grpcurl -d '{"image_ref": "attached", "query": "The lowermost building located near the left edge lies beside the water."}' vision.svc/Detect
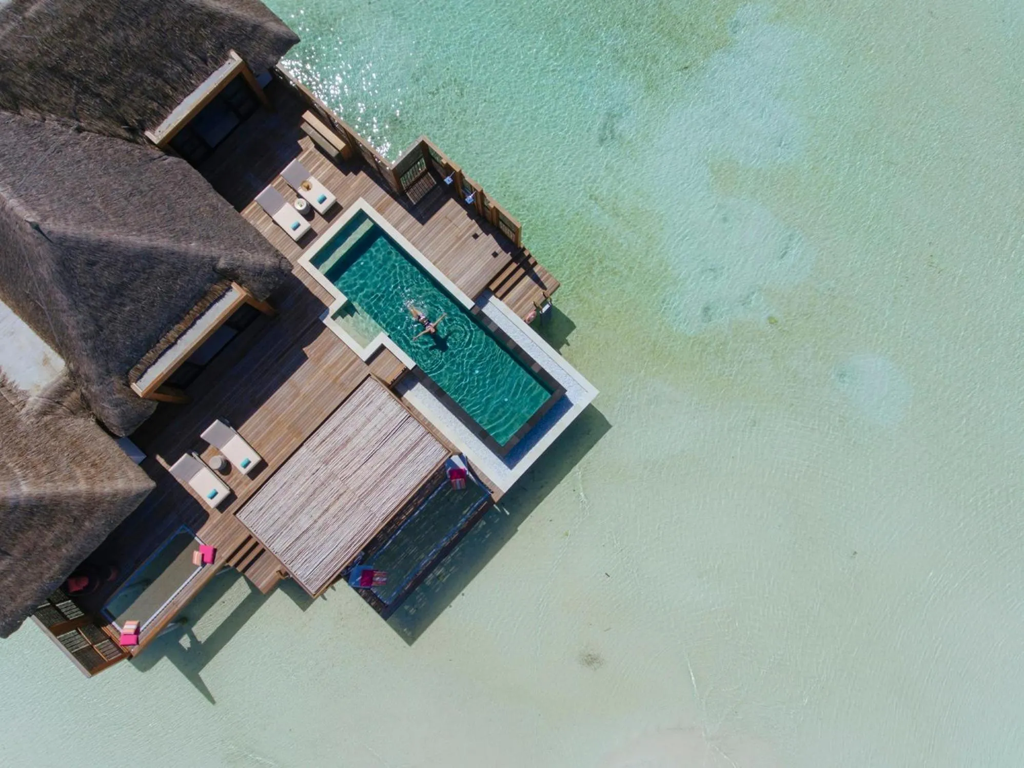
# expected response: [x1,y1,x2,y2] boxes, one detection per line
[0,349,163,637]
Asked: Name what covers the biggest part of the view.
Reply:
water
